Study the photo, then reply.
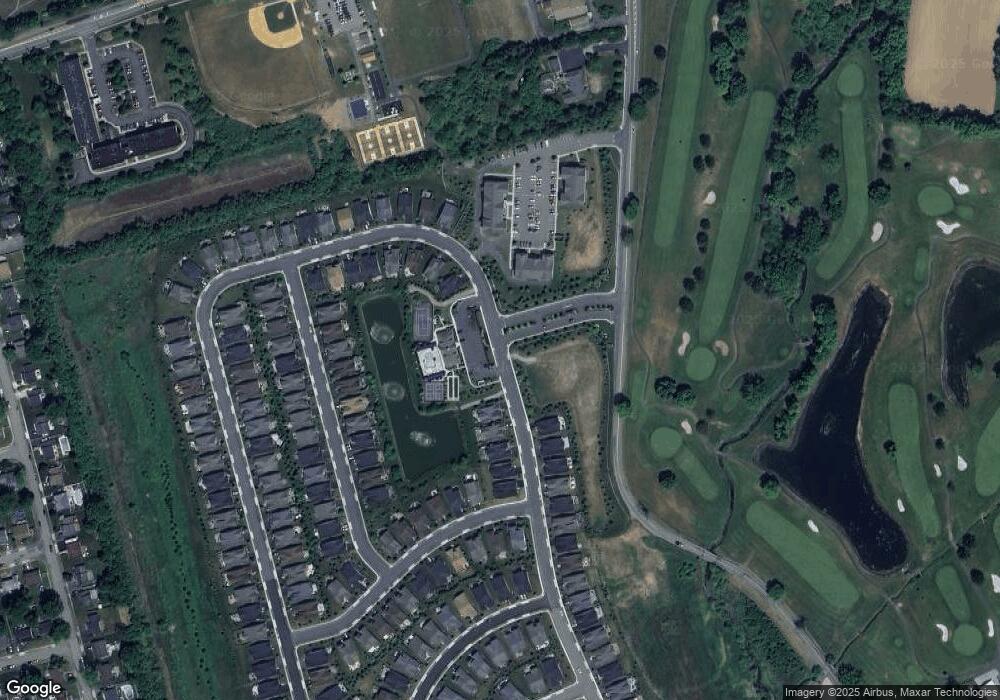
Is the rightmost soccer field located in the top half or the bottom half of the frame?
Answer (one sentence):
Seen from above, the rightmost soccer field lies in the top half of the view.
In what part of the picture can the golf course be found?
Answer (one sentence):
You can find the golf course in the right area of the picture.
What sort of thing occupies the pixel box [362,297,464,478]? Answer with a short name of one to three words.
pond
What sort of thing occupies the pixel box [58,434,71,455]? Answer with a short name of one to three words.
swimming pool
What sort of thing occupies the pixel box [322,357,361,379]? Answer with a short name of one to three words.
house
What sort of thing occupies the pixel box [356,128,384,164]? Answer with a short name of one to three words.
basketball court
